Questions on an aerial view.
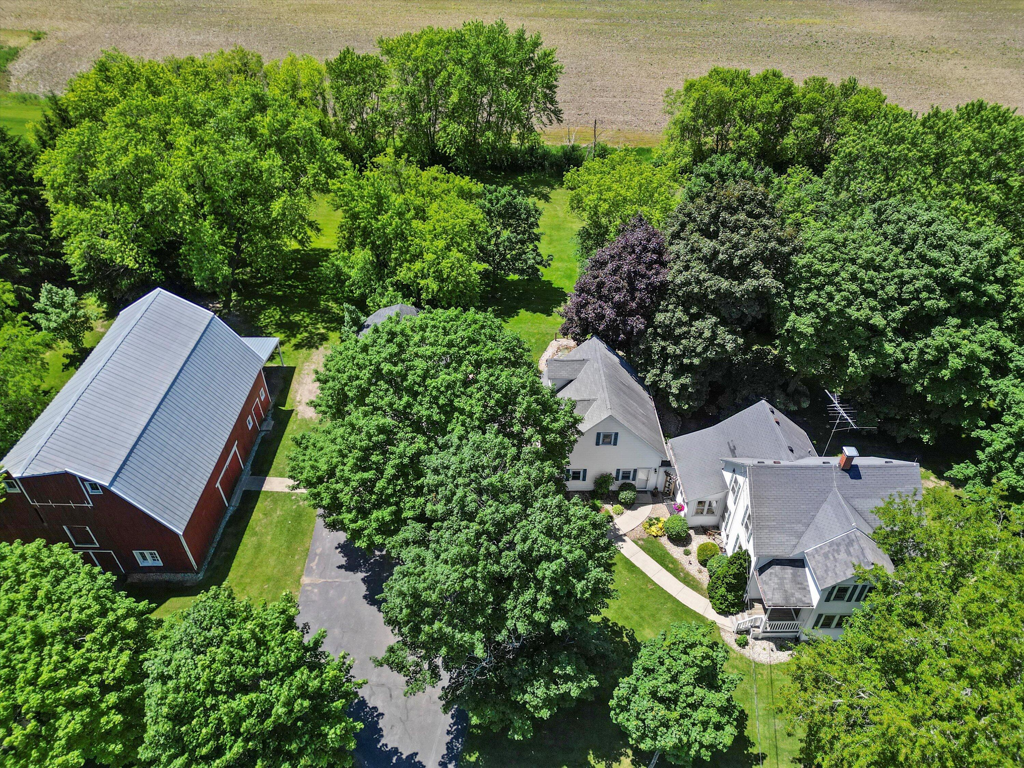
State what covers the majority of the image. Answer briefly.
trees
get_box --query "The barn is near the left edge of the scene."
[0,287,286,574]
